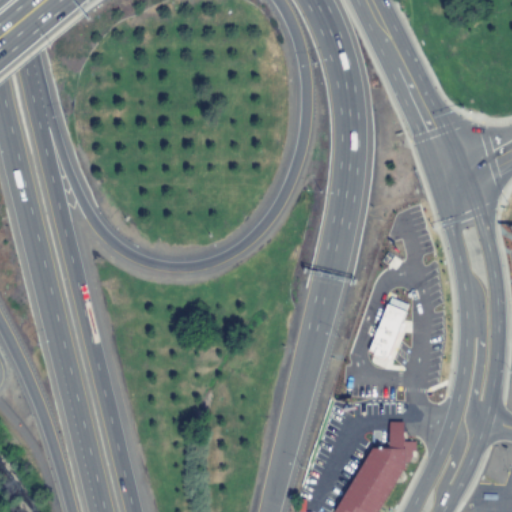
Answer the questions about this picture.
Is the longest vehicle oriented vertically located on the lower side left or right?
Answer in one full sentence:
The longest vehicle oriented vertically located on the lower side sits on the left side.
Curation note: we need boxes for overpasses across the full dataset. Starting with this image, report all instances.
[0,0,108,84]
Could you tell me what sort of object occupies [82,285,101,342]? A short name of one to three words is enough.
vehicle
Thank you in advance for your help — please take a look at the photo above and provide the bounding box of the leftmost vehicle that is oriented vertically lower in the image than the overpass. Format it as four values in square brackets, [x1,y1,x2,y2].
[13,168,27,200]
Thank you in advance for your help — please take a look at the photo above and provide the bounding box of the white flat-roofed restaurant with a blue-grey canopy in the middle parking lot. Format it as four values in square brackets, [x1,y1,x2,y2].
[370,298,414,360]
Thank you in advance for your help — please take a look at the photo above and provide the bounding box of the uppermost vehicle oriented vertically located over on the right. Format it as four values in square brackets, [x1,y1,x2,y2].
[334,36,350,70]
